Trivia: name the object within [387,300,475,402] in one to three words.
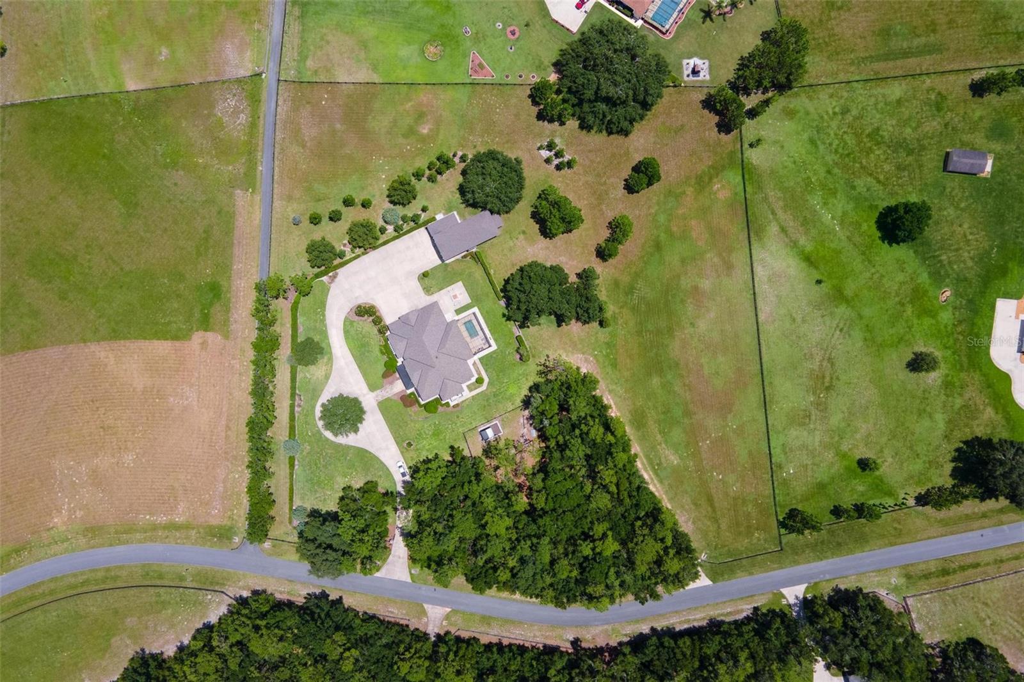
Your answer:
house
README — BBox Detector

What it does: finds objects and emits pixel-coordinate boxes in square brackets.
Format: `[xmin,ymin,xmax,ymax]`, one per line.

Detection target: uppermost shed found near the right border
[944,150,994,177]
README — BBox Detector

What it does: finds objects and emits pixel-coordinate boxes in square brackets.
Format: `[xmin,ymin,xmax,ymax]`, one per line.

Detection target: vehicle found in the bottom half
[395,460,409,481]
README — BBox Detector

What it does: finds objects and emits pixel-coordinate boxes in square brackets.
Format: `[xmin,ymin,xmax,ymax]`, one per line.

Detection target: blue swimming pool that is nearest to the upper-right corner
[652,0,681,23]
